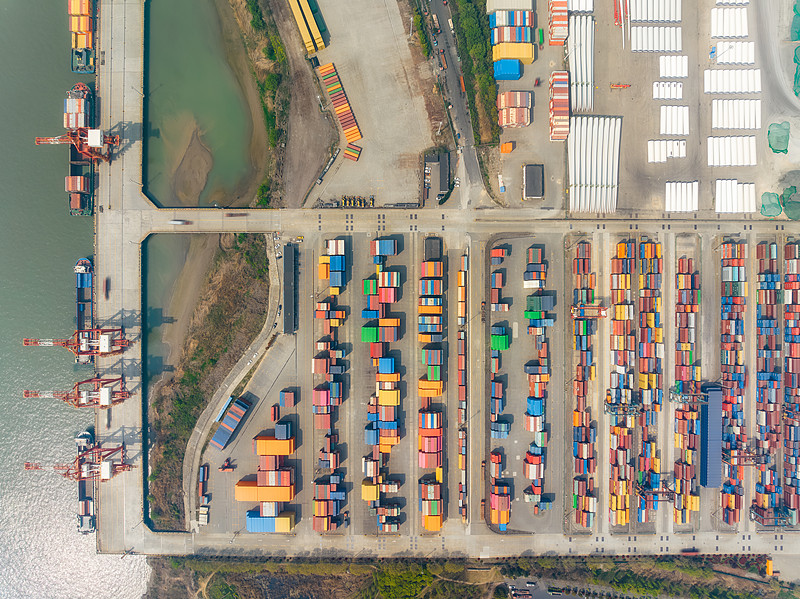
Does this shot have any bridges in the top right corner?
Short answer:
No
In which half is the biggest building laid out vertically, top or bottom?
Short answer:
bottom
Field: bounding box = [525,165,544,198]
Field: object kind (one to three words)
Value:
building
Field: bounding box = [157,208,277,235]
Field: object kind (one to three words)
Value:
bridge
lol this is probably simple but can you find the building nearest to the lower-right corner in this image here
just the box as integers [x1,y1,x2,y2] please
[701,388,722,487]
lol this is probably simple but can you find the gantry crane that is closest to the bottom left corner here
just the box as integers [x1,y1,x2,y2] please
[23,437,123,483]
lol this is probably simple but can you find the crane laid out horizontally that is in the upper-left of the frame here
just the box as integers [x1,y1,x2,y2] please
[38,127,116,167]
